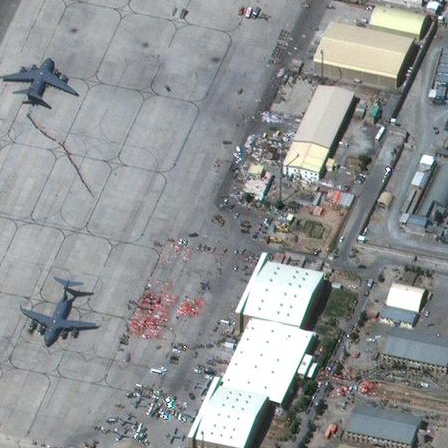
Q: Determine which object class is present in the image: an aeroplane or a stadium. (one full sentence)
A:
The one in the frame is an aeroplane.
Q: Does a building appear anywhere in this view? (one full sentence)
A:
Yes, a building is visible in the scene.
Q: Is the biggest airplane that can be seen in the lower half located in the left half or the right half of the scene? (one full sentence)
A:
The biggest airplane that can be seen in the lower half appears in the left half of the scene.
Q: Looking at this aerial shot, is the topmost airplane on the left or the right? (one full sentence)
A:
The topmost airplane appears in the left half of the scene.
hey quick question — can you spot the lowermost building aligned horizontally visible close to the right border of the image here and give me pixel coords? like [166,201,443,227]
[345,404,426,448]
